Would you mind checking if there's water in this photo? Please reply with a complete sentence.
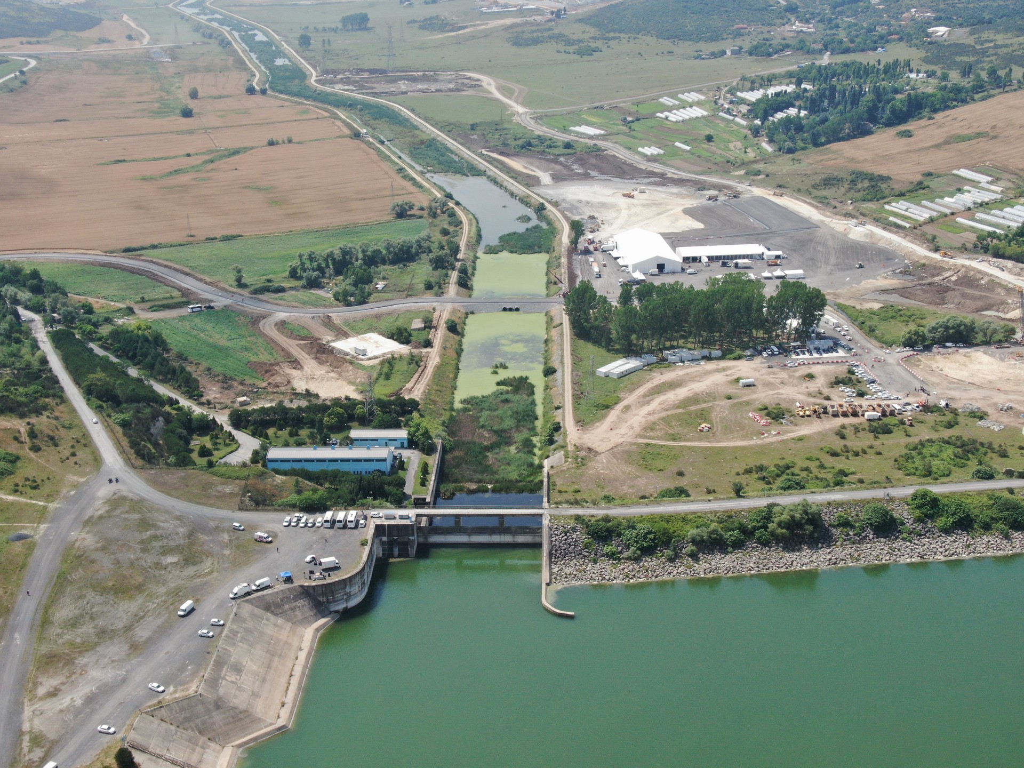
Yes, some water is visible.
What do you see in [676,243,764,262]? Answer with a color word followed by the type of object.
white tent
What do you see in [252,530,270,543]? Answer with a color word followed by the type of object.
white vehicle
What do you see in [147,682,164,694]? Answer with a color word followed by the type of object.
white vehicle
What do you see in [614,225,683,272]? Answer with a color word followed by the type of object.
white tent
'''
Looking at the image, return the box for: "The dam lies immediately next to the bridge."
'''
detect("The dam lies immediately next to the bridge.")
[423,520,542,543]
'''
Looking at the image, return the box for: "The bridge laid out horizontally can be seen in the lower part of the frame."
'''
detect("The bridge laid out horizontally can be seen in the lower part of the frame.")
[393,504,546,528]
